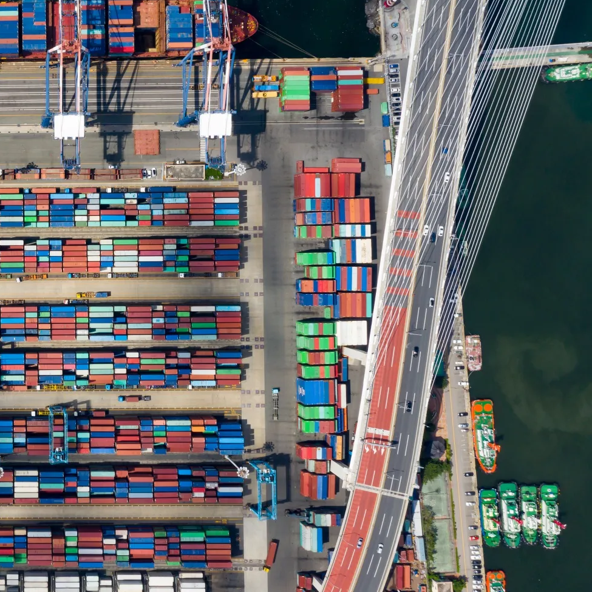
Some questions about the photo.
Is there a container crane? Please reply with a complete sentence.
Yes, a container crane appears in the view.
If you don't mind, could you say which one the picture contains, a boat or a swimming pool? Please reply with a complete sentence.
There is a boat in the scene.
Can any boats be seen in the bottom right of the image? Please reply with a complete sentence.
Yes, a boat shows up in the bottom right of the image.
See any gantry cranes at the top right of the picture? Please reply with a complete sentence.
No, there is no gantry crane at the top right of the picture.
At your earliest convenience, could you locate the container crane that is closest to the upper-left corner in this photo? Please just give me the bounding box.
[36,0,93,171]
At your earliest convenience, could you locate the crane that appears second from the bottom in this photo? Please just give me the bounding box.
[40,397,70,465]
